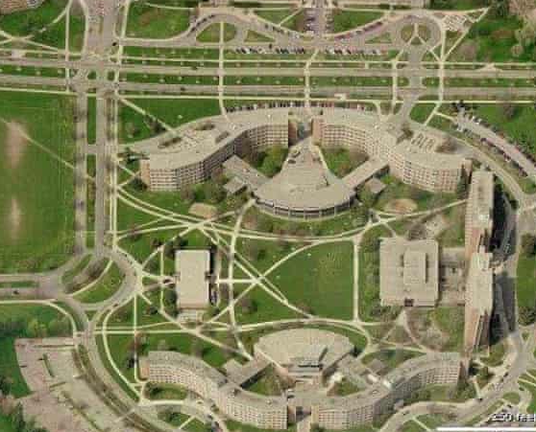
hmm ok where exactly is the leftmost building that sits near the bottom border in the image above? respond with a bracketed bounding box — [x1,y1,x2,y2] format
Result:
[140,351,296,430]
